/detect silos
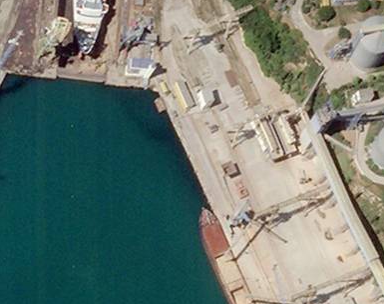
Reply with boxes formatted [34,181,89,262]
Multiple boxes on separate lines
[369,127,384,172]
[351,18,384,68]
